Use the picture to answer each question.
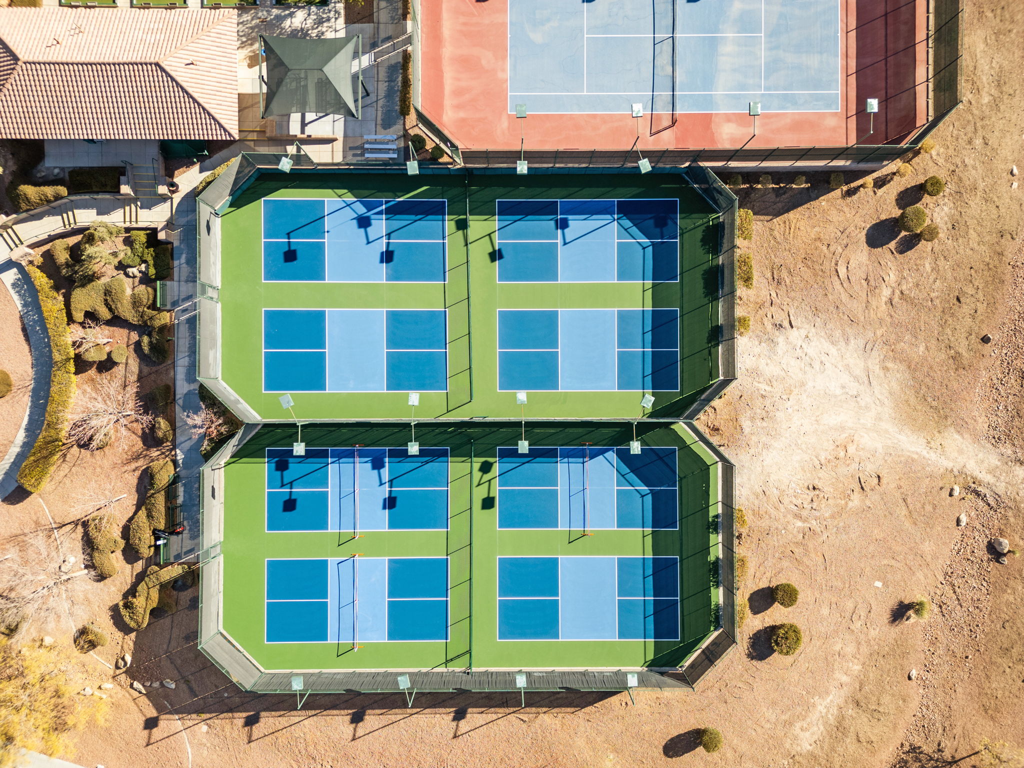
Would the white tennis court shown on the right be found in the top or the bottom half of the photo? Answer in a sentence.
You can find the white tennis court shown on the right in the top half.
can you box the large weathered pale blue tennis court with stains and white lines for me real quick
[508,0,840,112]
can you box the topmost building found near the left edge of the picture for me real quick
[0,4,239,140]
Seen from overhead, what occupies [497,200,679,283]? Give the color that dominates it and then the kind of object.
blue sports court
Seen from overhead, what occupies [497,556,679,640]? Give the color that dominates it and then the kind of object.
blue sports court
